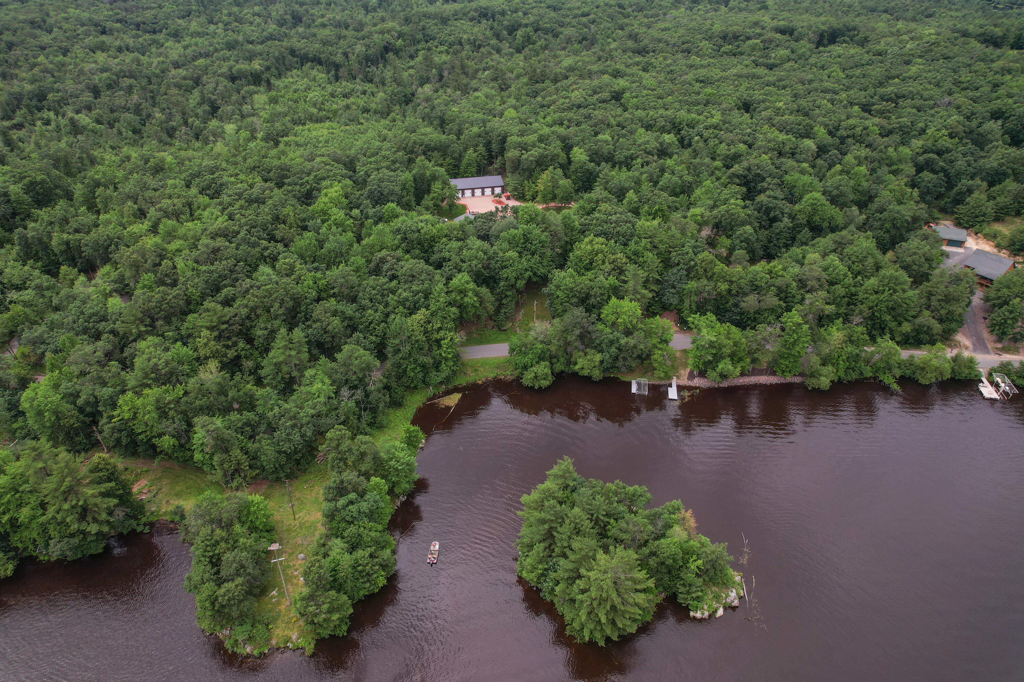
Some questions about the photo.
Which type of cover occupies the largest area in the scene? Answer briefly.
trees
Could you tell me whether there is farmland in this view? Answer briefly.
No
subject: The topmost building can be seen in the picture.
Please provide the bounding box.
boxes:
[447,175,505,197]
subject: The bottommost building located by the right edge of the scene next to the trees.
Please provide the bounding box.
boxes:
[953,249,1017,284]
